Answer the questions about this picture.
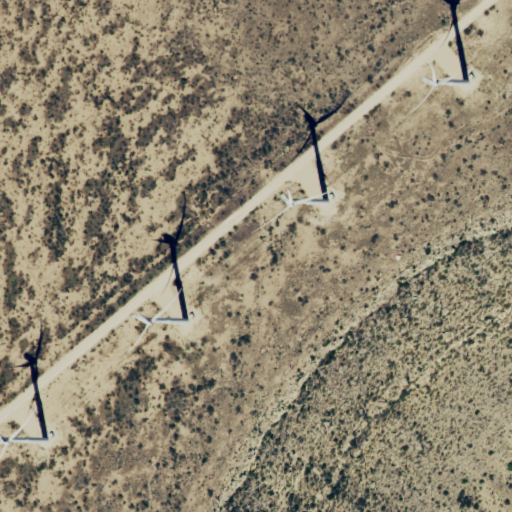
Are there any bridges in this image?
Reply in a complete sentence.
No, no bridge is visible in the view.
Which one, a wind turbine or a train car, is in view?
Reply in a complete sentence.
There is a wind turbine in the scene.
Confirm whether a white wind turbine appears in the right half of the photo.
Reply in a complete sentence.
Yes, you'll find a white wind turbine in the right half of the photo.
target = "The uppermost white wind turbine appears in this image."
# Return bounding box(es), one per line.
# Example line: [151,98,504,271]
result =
[408,54,471,122]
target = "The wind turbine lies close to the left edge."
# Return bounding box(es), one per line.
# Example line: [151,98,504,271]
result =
[0,415,51,465]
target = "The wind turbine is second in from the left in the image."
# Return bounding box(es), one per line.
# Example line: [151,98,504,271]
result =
[131,294,192,355]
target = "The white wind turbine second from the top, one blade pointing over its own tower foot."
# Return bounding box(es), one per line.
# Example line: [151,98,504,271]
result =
[256,188,332,230]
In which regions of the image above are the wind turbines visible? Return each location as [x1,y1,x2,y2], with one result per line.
[131,294,192,355]
[256,188,332,230]
[0,415,51,465]
[408,54,471,122]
